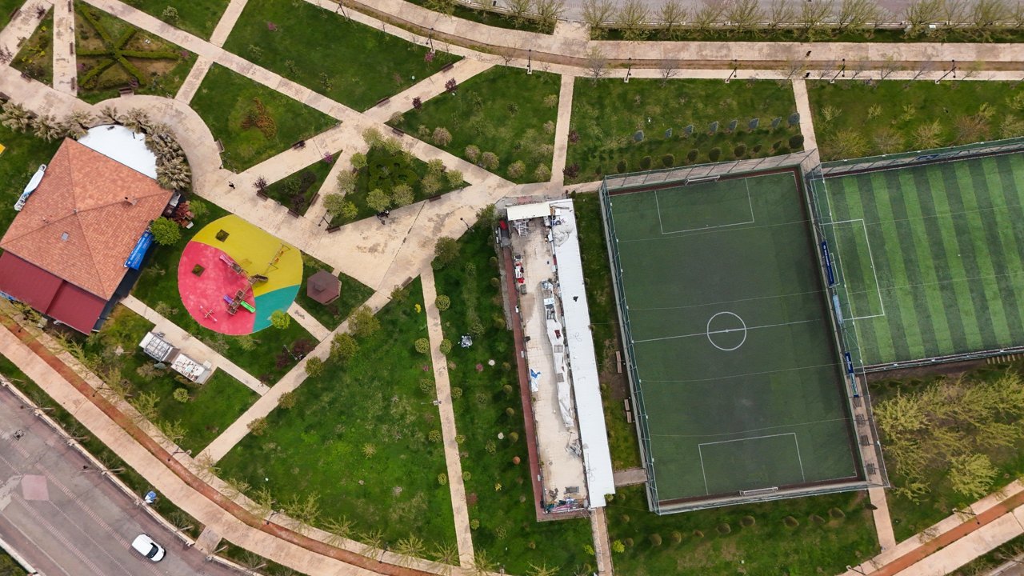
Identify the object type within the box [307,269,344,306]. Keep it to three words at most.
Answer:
building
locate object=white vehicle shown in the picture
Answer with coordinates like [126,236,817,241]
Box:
[127,533,167,560]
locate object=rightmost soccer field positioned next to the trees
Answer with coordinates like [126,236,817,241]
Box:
[806,141,1024,377]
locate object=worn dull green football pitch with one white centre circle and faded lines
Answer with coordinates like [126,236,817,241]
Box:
[602,165,865,507]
